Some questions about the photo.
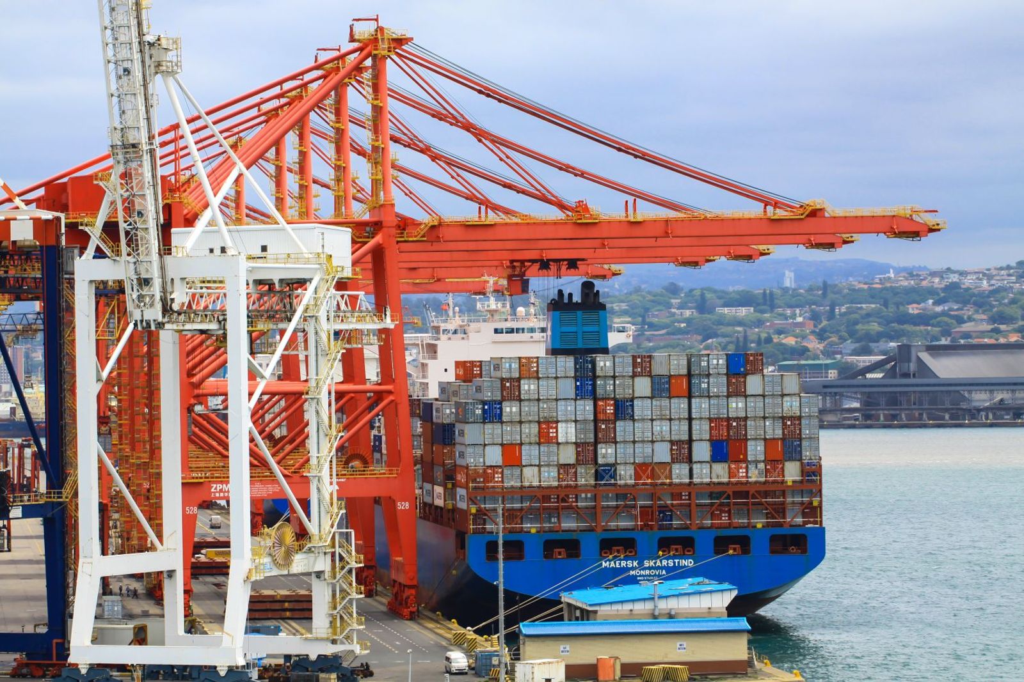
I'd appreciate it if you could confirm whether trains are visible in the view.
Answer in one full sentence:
No, the frame has no train in it.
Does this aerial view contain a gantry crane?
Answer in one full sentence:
Yes, there's a gantry crane down there.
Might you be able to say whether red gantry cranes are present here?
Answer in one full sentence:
Yes, the frame does contain a red gantry crane.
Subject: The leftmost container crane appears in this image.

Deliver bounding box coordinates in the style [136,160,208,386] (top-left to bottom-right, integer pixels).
[0,176,126,671]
